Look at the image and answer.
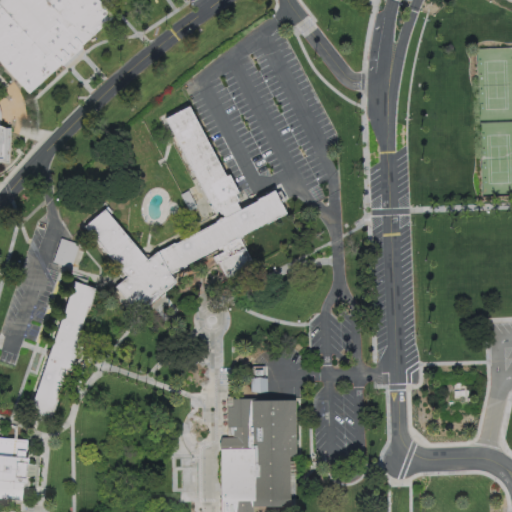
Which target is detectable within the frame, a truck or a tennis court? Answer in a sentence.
I can see a tennis court in this picture.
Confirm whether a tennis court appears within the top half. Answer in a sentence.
Yes, I can see a tennis court within the top half.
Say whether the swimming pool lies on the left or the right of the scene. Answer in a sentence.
It is on the left.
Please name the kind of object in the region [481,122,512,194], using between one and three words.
tennis court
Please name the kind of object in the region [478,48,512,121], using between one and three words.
tennis court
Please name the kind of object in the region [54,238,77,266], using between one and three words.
building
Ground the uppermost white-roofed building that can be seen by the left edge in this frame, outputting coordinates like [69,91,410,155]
[0,0,107,94]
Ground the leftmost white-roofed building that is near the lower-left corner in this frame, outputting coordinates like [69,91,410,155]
[0,436,30,501]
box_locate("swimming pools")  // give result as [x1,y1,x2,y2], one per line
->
[142,187,178,224]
